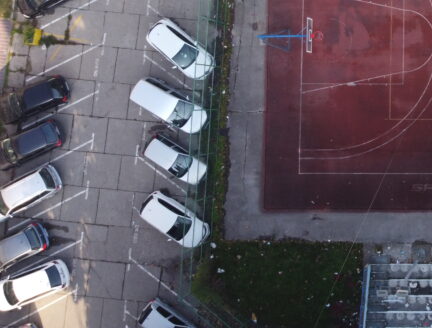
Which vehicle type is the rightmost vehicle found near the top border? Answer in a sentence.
The rightmost vehicle found near the top border appears to be a car.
